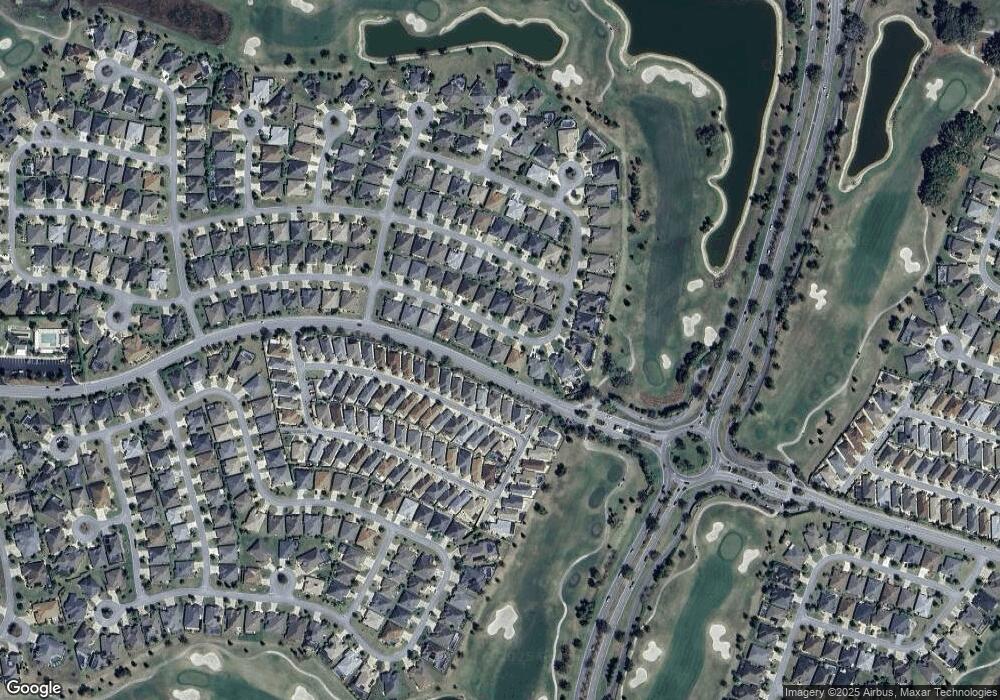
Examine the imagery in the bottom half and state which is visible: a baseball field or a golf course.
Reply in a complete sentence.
Visible in the bottom half is a golf course.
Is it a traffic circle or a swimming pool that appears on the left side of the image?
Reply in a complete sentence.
There is a swimming pool on the left side of the image.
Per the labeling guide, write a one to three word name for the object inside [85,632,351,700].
golf course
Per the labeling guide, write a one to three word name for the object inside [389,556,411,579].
house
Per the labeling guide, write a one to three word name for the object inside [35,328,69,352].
swimming pool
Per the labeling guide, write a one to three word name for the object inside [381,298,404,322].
house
